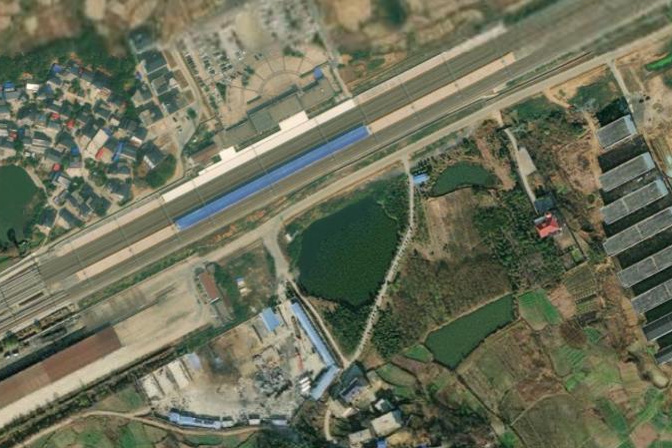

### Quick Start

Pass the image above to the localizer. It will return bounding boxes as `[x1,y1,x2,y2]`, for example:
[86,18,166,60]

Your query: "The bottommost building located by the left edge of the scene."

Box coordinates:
[0,323,122,408]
